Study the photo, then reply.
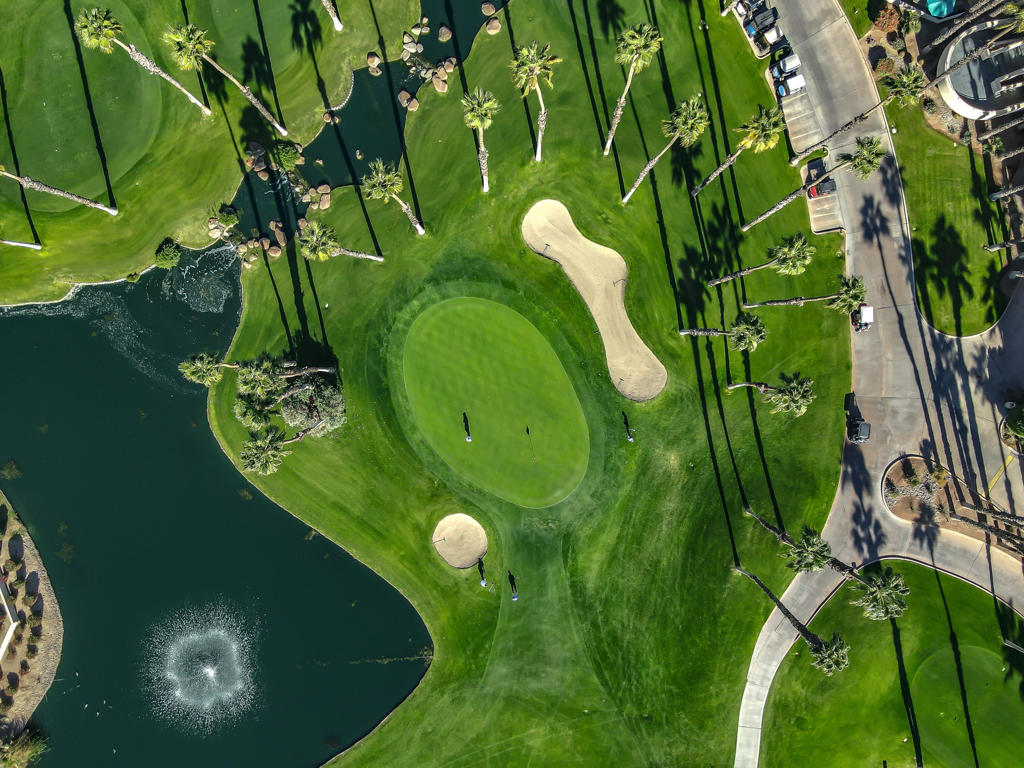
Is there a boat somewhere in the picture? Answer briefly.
No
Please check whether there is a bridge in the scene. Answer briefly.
No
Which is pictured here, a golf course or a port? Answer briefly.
golf course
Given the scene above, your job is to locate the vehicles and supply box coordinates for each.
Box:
[753,26,783,52]
[851,304,873,326]
[849,416,872,441]
[743,12,773,39]
[775,76,805,101]
[732,0,760,16]
[806,181,835,201]
[769,57,800,82]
